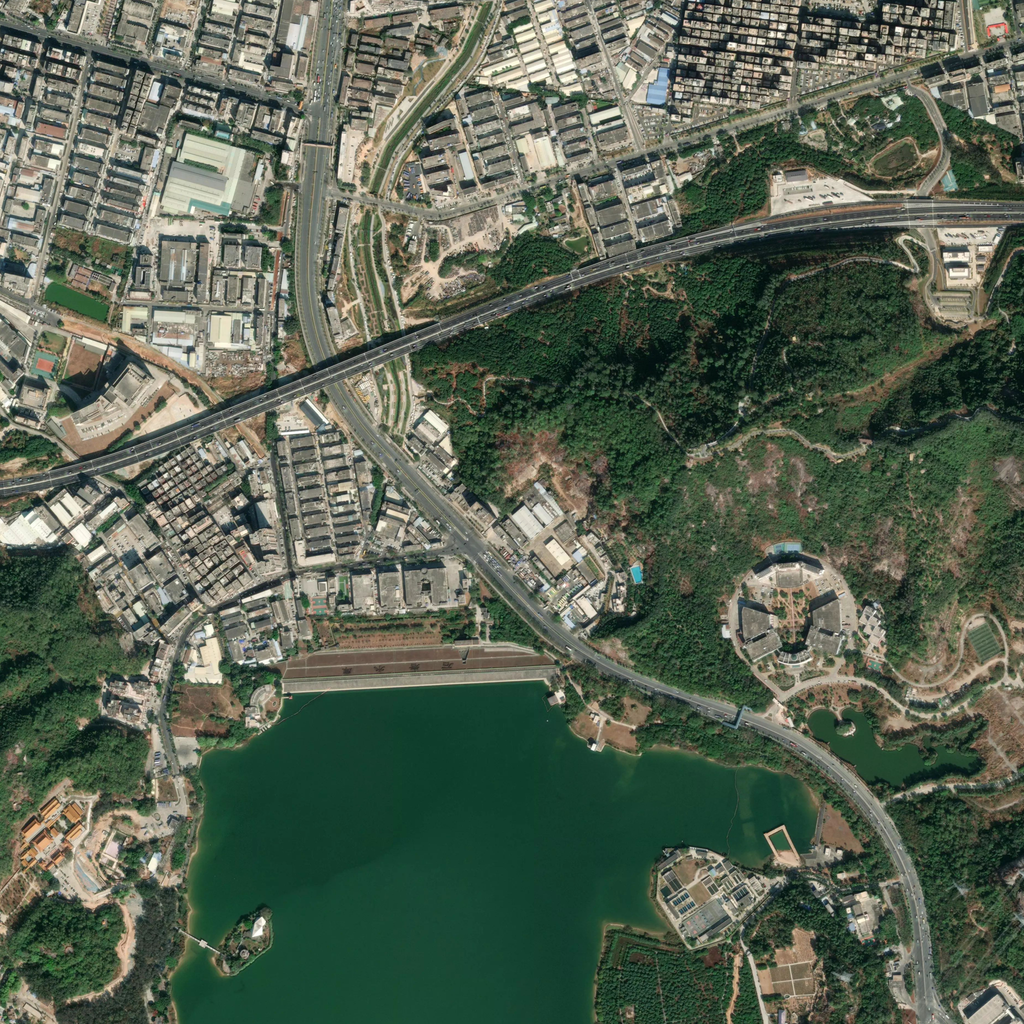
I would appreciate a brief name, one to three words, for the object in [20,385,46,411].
building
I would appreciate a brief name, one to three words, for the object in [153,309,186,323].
shed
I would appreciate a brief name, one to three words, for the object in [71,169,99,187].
building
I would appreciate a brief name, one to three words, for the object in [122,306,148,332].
shed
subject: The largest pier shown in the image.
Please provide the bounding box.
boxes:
[761,824,801,865]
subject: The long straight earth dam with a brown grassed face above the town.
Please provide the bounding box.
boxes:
[283,645,556,693]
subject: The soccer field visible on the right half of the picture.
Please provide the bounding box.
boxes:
[968,623,1001,662]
